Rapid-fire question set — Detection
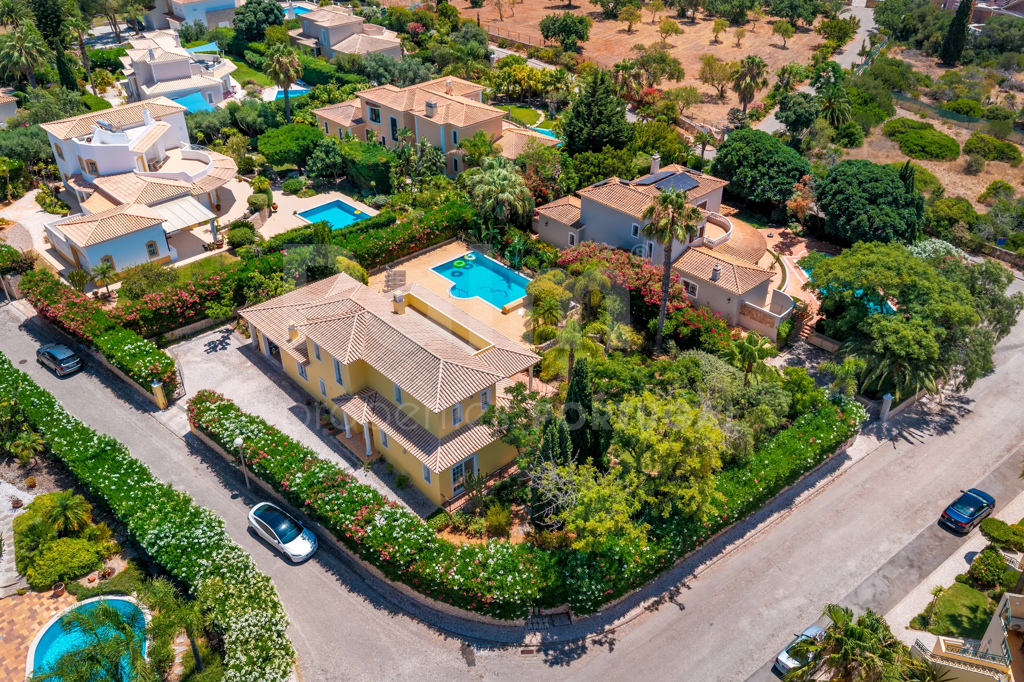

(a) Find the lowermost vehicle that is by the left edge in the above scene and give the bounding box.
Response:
[37,338,86,376]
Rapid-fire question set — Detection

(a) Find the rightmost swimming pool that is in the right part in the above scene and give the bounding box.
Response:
[792,250,892,318]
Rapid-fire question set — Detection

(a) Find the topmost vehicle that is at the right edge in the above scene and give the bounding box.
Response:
[940,487,997,533]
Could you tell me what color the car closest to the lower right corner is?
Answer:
blue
